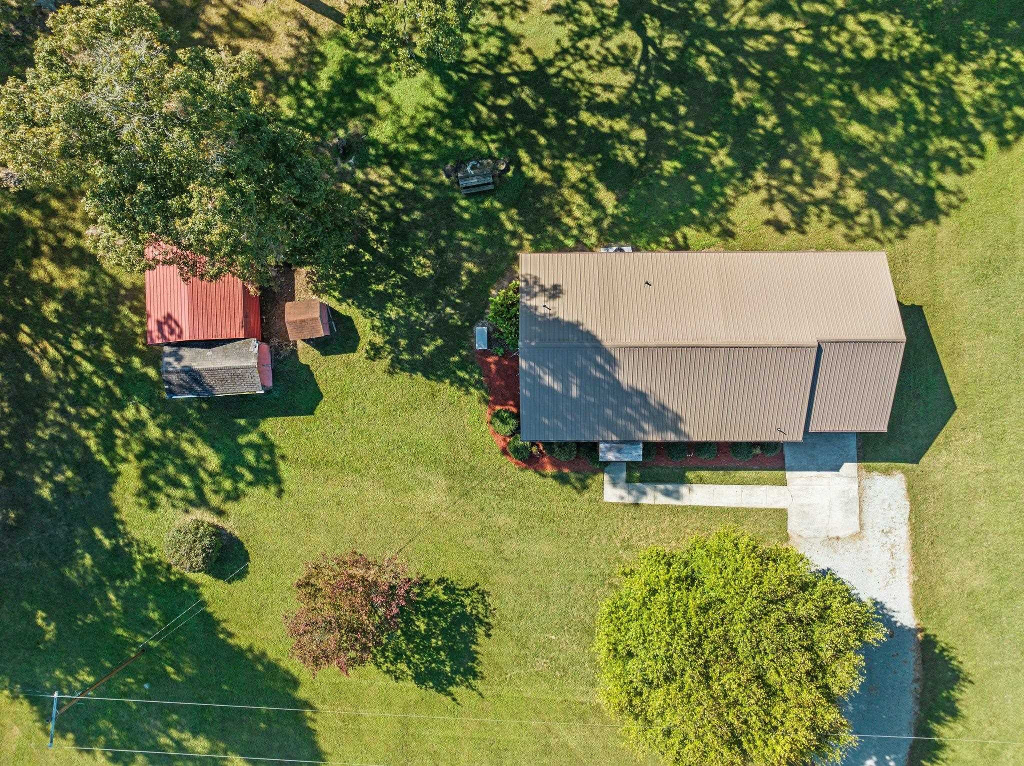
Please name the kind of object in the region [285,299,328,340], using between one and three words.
shed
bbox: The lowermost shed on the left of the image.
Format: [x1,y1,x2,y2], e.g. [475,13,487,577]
[158,340,273,398]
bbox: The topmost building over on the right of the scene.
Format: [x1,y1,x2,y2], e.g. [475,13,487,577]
[519,251,905,441]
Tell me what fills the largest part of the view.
grass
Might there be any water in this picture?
No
